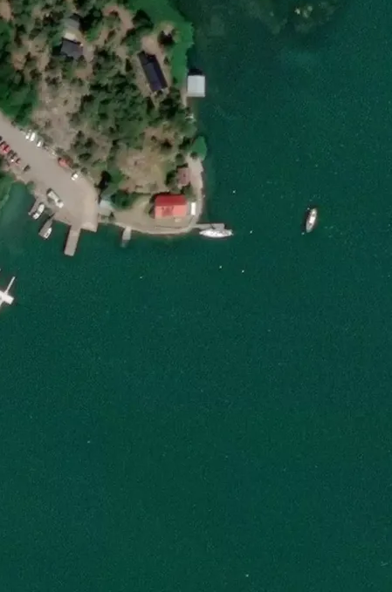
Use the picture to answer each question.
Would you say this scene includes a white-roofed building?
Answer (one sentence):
Yes, the picture does show a white-roofed building.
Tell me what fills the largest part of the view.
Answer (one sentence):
What you mostly see from above here is water.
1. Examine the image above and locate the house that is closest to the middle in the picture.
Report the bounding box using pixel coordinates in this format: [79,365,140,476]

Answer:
[156,195,187,219]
